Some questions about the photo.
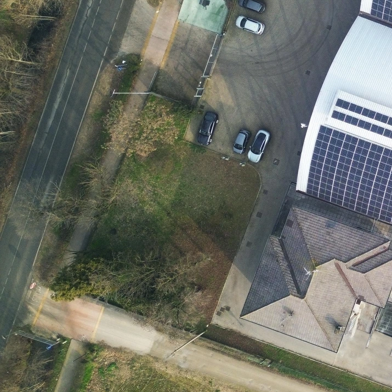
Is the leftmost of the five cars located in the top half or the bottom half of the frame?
top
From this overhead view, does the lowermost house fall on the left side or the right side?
right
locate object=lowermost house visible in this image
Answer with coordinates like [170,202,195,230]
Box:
[240,207,392,353]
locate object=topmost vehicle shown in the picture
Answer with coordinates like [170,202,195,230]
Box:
[237,0,267,14]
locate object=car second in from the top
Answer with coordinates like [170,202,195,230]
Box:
[236,16,267,34]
